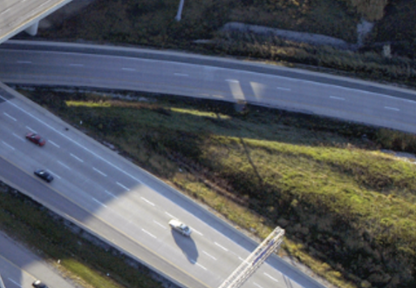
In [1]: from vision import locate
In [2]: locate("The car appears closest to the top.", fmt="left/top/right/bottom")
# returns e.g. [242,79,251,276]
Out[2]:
[27,132,49,148]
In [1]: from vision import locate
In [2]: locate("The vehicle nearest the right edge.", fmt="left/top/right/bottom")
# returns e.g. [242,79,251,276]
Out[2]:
[170,220,194,237]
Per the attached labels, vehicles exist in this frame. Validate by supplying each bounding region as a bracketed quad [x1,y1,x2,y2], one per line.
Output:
[170,220,194,237]
[30,281,48,288]
[35,169,57,184]
[27,132,49,148]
